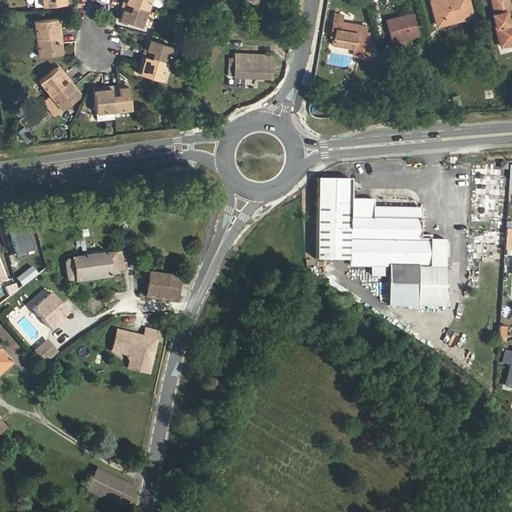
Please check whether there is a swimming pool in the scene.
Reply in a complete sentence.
Yes, a swimming pool is visible in the scene.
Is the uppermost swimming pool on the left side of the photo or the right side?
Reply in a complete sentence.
You can find the uppermost swimming pool on the right side of the picture.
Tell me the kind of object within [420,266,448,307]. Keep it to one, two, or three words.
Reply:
building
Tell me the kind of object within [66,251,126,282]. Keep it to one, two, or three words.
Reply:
house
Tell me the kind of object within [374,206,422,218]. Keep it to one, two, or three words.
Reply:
building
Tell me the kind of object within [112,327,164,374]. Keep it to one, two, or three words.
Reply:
house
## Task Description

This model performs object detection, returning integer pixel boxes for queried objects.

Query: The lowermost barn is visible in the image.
[88,467,139,512]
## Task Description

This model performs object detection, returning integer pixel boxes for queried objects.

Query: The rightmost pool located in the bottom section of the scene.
[6,306,50,346]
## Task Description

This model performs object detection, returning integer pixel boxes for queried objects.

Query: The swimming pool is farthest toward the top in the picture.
[326,44,357,71]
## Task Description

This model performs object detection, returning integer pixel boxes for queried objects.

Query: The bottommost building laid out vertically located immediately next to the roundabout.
[320,178,353,260]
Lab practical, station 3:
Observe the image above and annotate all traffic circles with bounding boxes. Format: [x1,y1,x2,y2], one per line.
[216,112,305,202]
